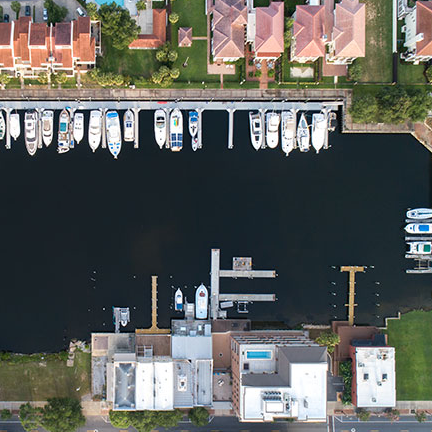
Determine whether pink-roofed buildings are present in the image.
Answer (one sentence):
Yes, there's a pink-roofed building here.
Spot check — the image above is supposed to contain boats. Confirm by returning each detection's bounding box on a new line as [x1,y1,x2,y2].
[41,111,54,148]
[9,114,21,139]
[104,111,122,159]
[404,222,432,235]
[193,282,209,319]
[265,112,280,149]
[153,110,167,150]
[123,109,135,143]
[310,113,329,154]
[169,108,183,152]
[24,111,38,156]
[55,148,70,154]
[296,112,315,153]
[87,111,102,152]
[187,111,199,138]
[72,113,85,145]
[405,241,432,254]
[247,112,262,151]
[0,110,6,141]
[191,136,198,151]
[280,112,296,156]
[405,208,432,219]
[174,287,184,311]
[57,108,70,148]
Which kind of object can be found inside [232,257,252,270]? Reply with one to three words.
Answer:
ship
